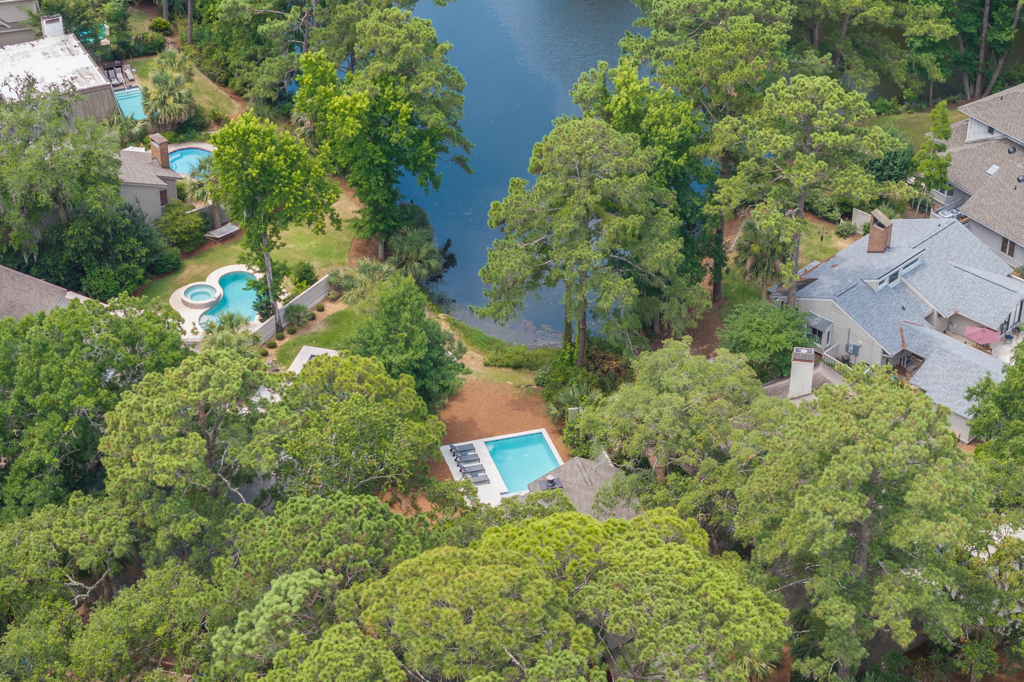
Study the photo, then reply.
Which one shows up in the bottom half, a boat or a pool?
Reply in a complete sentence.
There is a pool in the bottom half.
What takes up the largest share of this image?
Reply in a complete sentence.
Most of the picture is covered by trees.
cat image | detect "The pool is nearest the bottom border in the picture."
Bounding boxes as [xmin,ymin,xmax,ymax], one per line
[484,432,560,490]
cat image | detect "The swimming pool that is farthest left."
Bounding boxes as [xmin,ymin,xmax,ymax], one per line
[115,74,155,118]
